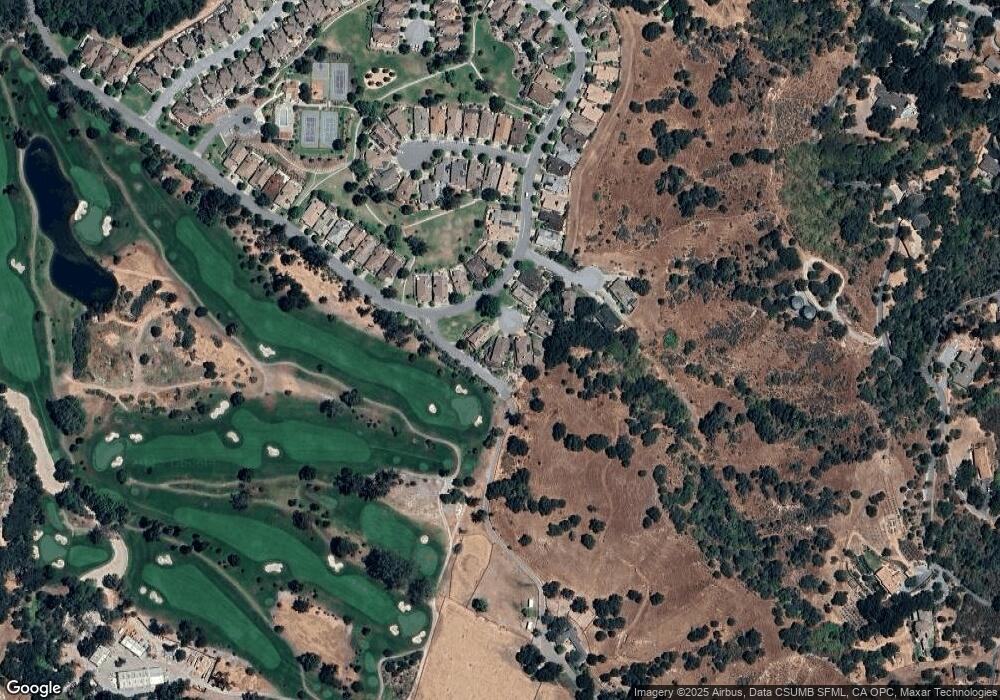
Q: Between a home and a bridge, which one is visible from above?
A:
home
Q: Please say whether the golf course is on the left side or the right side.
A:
left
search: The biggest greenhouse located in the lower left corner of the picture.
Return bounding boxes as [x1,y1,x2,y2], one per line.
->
[116,668,161,689]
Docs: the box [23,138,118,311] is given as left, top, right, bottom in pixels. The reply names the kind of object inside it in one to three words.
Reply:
pond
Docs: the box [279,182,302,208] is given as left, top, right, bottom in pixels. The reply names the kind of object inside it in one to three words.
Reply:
house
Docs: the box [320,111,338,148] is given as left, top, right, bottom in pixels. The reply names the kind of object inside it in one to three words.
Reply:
tennis court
